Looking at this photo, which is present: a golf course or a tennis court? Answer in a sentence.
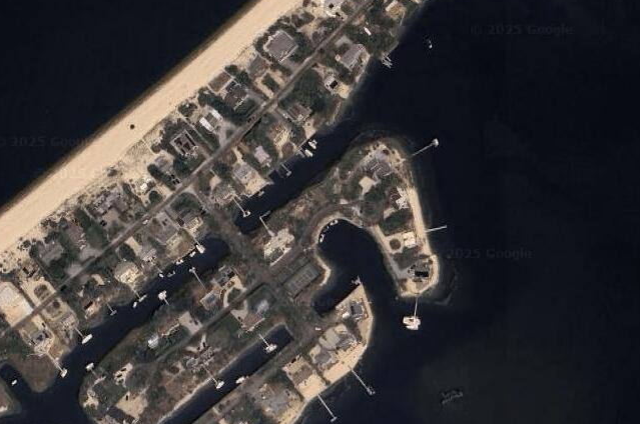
I can see a tennis court in this picture.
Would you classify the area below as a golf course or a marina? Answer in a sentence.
The picture captures a marina.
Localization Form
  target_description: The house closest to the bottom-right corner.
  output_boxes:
[407,259,429,283]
